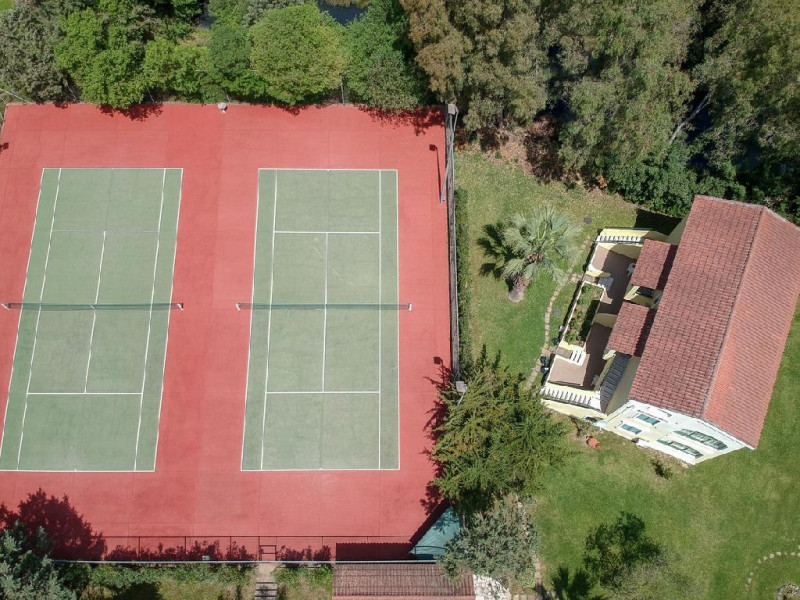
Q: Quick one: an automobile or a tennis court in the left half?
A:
tennis court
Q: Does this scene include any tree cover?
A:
Yes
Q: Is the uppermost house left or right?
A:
right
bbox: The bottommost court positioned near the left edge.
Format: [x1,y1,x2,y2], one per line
[0,167,183,472]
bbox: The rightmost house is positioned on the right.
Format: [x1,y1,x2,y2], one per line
[601,195,800,464]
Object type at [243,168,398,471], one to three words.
tennis court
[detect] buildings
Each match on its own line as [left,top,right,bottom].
[601,195,800,464]
[332,563,477,600]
